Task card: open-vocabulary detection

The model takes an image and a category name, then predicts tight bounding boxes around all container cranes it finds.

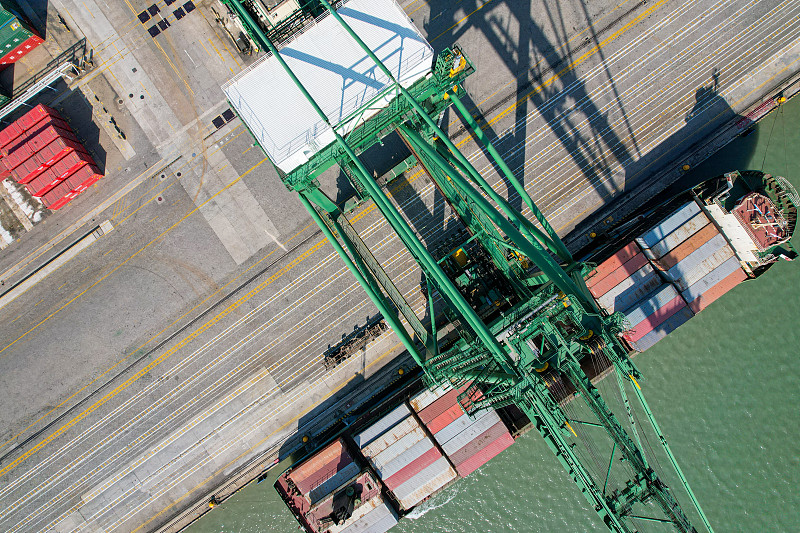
[219,0,715,533]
